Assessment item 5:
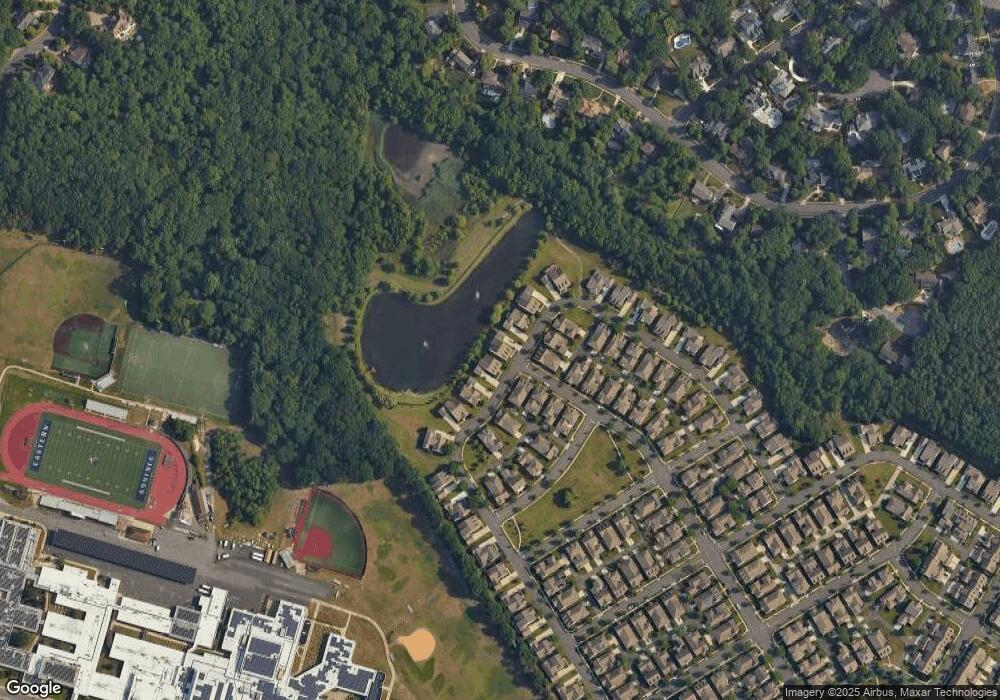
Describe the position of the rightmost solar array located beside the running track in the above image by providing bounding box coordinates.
[51,529,197,585]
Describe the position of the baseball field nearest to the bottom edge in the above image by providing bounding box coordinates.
[391,628,436,662]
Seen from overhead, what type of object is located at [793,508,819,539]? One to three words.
house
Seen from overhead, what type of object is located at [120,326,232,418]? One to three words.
sports field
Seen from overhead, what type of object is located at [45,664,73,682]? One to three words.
solar array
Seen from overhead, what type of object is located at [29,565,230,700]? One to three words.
building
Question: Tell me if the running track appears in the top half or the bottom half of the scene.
bottom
